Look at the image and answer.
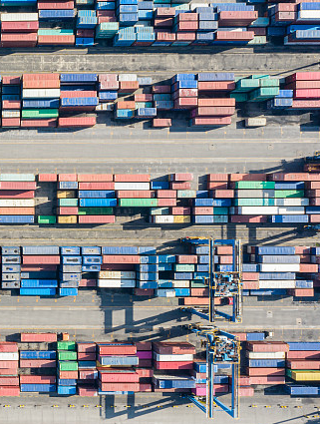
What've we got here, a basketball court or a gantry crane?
gantry crane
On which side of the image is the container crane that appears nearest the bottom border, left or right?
right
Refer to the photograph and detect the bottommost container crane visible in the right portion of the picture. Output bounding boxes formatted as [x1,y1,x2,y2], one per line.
[177,323,244,421]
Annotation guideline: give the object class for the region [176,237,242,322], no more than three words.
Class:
container crane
